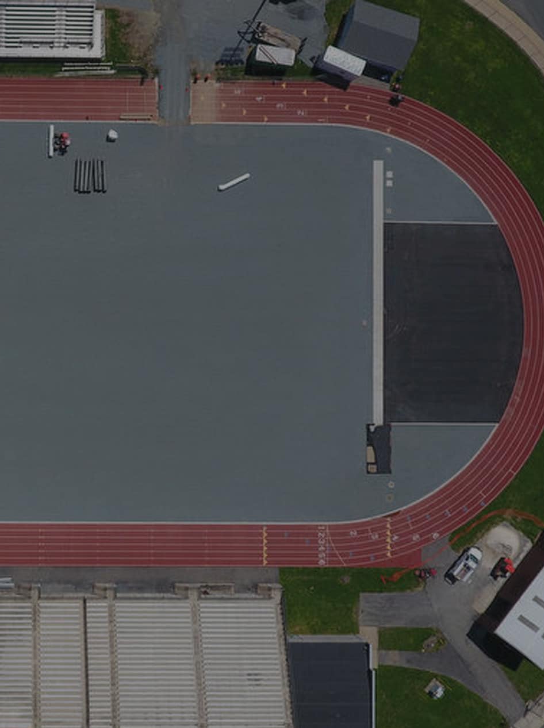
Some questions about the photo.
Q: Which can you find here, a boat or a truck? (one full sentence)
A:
I can see a truck in this picture.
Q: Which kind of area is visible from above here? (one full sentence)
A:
The area seen from above is a sports ground.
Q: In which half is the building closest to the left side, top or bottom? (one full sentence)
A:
It is in the bottom half that the building closest to the left side appears.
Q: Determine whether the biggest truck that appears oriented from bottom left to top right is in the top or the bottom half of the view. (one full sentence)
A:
You can find the biggest truck that appears oriented from bottom left to top right in the bottom half.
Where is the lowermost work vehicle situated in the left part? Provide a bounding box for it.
[53,134,71,149]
